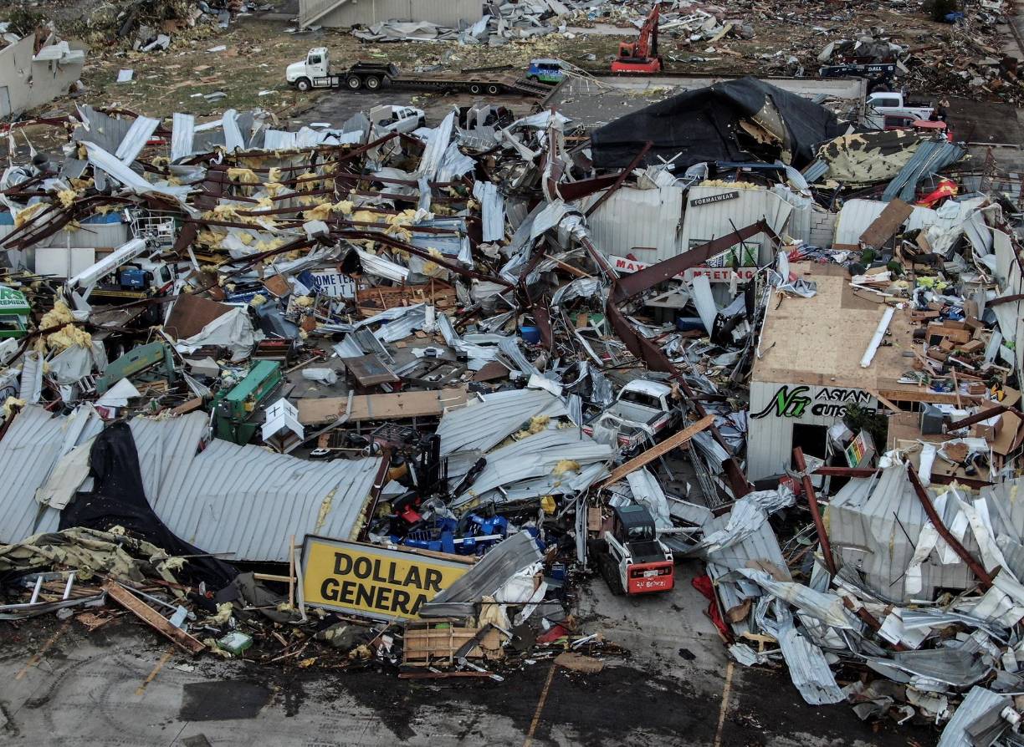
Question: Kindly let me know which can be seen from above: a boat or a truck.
truck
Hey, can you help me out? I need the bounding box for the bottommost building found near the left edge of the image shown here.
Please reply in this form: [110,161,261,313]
[0,27,81,117]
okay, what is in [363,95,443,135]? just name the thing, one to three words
truck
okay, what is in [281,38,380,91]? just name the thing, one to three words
truck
